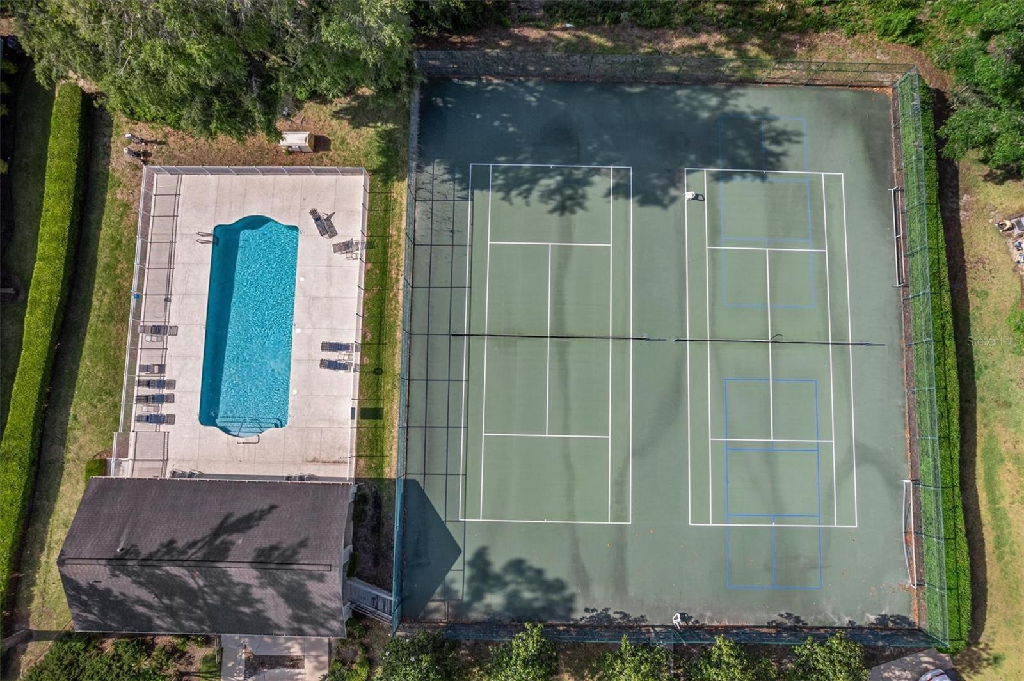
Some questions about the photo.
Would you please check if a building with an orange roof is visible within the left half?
No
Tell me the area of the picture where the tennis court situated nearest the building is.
center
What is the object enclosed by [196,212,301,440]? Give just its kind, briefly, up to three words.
swimming pool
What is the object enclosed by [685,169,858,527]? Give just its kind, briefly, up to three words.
tennis court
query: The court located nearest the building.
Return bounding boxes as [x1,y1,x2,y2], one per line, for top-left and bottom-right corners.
[460,163,632,523]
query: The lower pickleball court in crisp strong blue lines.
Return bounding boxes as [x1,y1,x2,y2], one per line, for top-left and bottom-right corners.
[724,379,823,590]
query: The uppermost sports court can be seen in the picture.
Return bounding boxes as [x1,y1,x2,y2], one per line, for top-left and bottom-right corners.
[718,115,814,309]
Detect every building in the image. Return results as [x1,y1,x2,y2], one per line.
[58,477,358,639]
